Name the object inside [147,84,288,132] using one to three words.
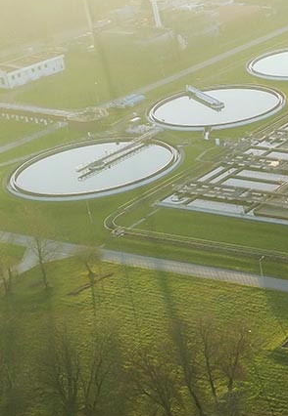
storage tank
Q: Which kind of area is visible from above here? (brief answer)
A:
industrial area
